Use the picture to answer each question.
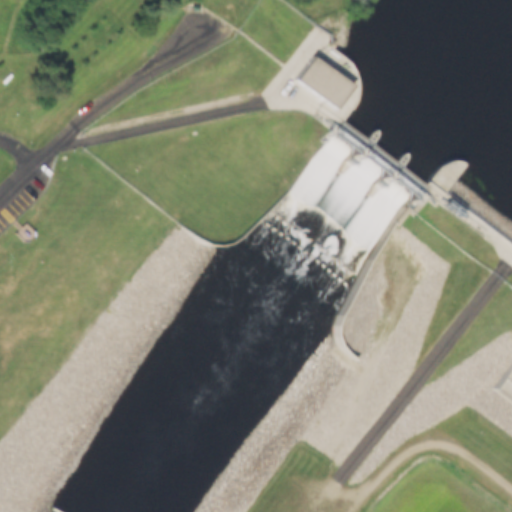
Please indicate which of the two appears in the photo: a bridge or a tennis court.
bridge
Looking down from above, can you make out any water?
Yes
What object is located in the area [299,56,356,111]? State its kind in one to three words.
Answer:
building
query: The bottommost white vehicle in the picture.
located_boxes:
[40,164,54,179]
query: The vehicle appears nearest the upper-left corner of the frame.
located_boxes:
[2,74,15,86]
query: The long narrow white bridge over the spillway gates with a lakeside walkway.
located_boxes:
[328,117,442,205]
